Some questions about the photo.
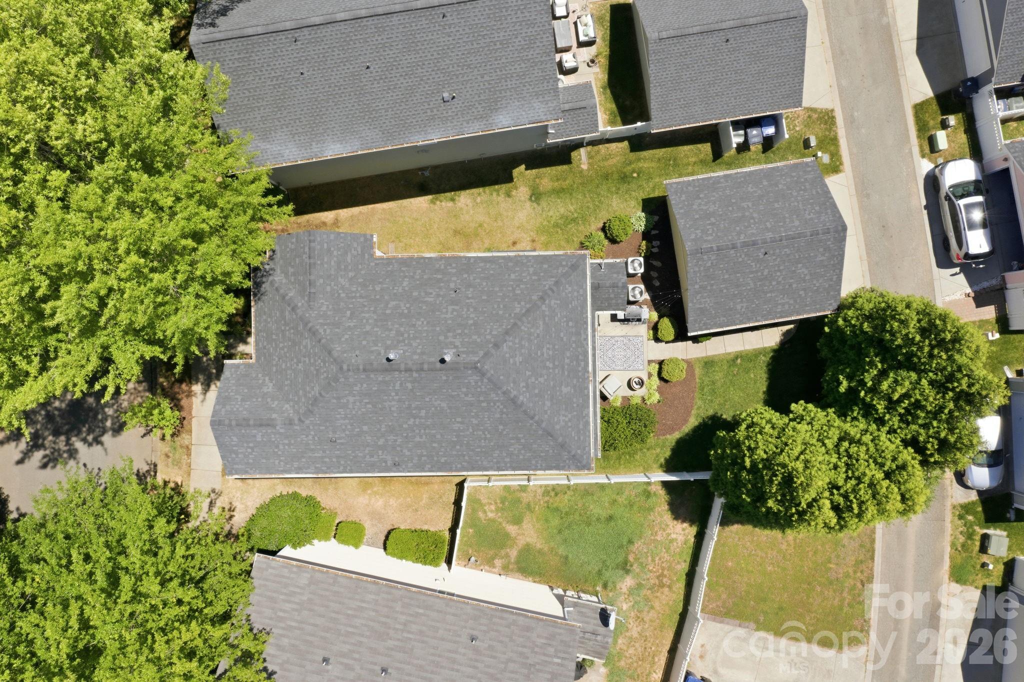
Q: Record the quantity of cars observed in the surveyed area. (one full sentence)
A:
The photo contains 2 cars.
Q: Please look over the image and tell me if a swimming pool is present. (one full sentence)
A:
No, I find no swimming pool anywhere in the image.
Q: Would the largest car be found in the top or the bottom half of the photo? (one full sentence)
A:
You can find the largest car in the top half.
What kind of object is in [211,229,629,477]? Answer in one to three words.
house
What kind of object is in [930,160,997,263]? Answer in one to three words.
car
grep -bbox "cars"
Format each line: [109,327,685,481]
[930,160,997,263]
[956,406,1009,491]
